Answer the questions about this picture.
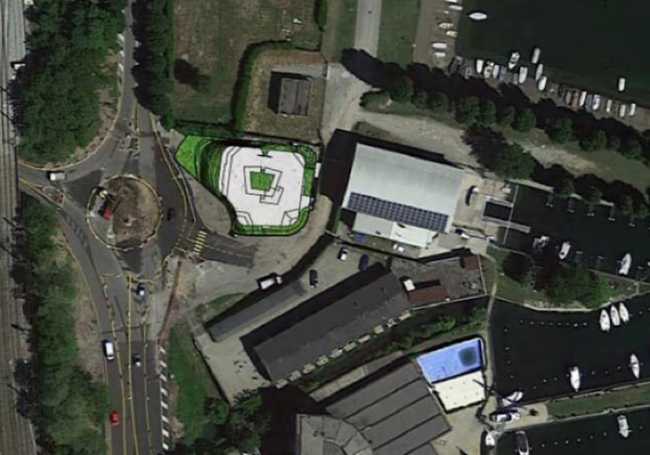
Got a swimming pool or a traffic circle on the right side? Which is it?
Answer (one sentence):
What appears on the right side is a swimming pool.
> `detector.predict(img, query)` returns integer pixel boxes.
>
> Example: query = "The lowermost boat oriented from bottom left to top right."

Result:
[503,390,523,407]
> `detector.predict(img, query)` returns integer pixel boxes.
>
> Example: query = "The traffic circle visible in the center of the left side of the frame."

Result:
[88,175,161,250]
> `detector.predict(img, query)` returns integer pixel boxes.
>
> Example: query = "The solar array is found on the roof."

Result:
[348,190,448,230]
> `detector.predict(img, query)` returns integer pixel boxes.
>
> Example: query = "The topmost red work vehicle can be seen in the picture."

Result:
[102,200,114,220]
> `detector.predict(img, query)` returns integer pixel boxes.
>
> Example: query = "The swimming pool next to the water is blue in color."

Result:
[418,338,488,387]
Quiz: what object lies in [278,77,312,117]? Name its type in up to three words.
shed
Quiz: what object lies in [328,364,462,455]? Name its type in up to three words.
building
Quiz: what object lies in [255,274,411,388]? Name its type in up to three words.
building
